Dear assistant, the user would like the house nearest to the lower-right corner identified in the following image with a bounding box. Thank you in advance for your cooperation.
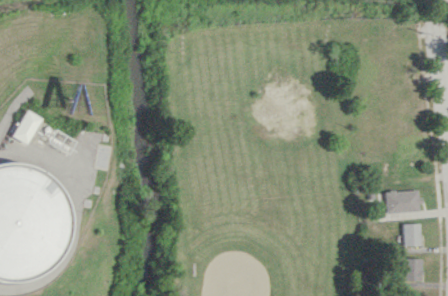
[407,258,424,282]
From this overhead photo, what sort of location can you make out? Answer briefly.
sports ground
